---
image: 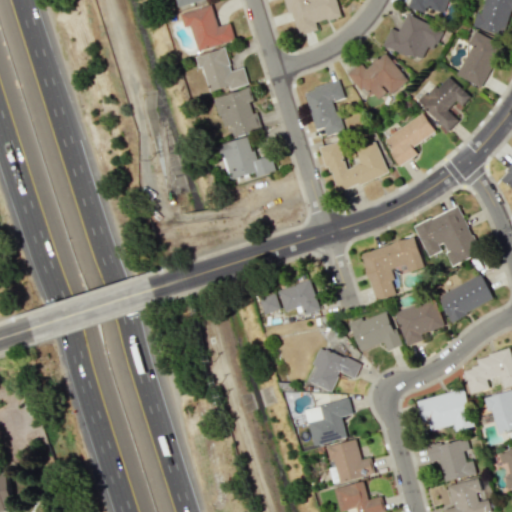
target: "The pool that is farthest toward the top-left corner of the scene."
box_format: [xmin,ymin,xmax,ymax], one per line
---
[177,28,192,48]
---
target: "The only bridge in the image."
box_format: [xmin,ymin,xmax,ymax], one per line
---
[23,273,154,347]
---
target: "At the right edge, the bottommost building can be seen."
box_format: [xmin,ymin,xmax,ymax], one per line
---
[438,478,490,512]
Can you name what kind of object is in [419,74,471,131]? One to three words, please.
house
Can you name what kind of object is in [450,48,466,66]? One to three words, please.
swimming pool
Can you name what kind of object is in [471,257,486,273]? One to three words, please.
camper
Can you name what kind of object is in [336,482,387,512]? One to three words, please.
house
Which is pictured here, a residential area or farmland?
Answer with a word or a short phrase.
residential area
